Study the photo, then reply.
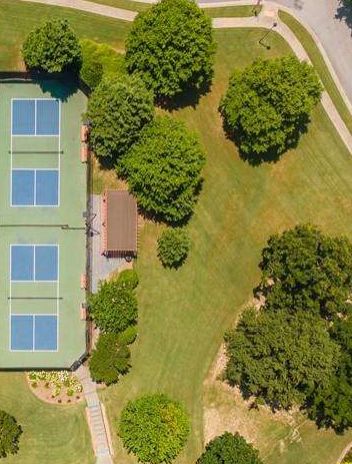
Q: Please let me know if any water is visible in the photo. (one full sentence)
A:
No, no water is visible.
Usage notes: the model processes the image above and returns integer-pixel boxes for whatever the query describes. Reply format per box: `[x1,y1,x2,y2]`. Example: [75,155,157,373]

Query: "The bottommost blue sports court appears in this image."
[5,244,62,350]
